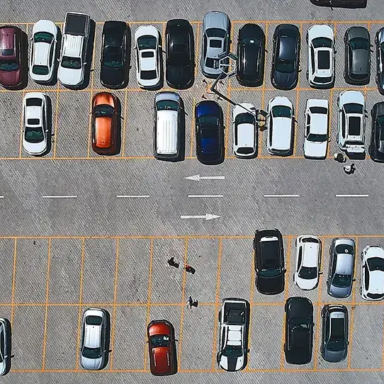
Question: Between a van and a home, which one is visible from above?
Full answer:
Of the two, only a van appears.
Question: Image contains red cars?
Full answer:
Yes, you can see a red car in this photo.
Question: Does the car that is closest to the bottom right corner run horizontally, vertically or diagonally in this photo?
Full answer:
What the image shows is the car that is closest to the bottom right corner lying vertically.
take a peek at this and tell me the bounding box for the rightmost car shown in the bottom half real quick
[360,245,384,300]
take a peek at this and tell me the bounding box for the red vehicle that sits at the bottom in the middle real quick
[146,320,176,375]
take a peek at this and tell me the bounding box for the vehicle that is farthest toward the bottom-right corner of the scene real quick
[321,304,351,361]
